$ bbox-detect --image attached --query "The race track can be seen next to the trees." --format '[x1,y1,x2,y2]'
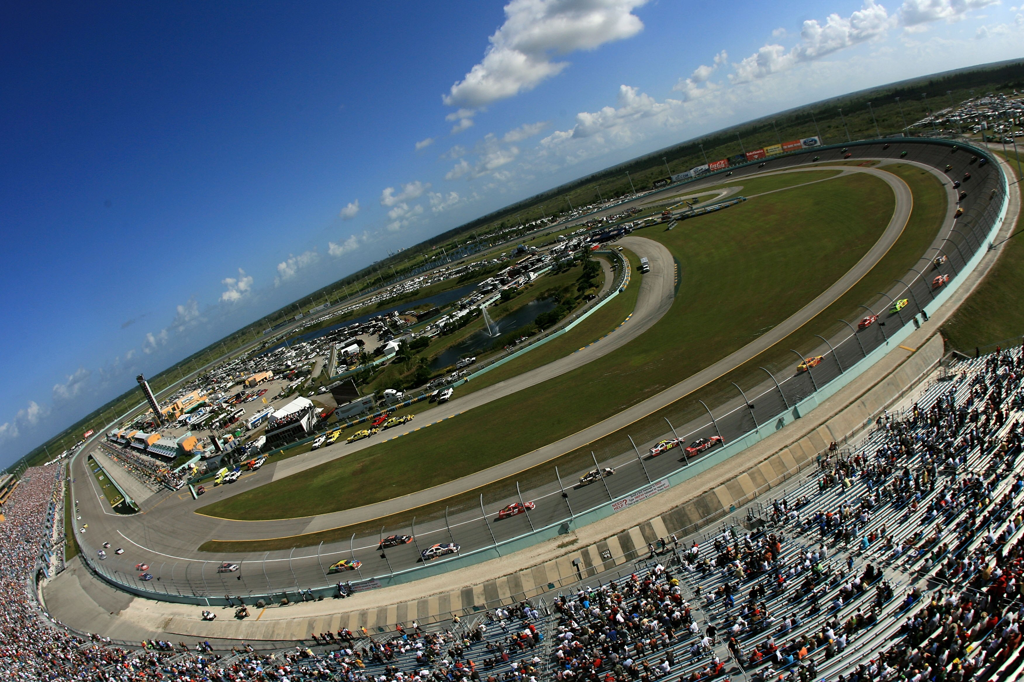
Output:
[72,140,1003,595]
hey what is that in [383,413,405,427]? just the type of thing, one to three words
vehicle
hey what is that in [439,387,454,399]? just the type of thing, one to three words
vehicle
